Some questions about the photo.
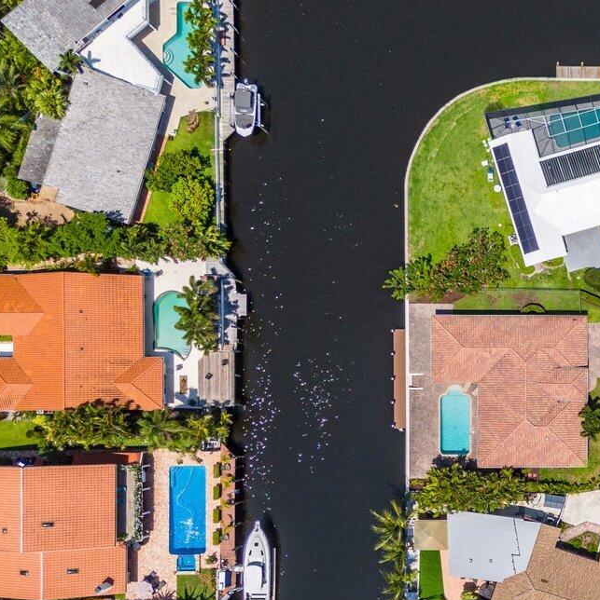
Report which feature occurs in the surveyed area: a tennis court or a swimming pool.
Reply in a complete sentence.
There is a swimming pool in the scene.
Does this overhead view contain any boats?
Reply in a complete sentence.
Yes, the frame does contain a boat.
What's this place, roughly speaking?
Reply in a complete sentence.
It's a residential area.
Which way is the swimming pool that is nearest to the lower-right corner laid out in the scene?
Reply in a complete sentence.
What the image shows is the swimming pool that is nearest to the lower-right corner lying up and down.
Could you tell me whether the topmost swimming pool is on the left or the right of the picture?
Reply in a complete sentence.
The topmost swimming pool appears in the left half of the scene.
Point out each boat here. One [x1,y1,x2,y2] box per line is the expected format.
[233,78,256,136]
[243,522,270,600]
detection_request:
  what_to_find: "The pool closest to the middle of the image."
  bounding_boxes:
[153,289,196,361]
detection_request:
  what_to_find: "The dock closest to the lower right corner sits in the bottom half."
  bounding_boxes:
[391,329,404,429]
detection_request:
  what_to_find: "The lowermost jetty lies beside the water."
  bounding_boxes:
[219,445,246,600]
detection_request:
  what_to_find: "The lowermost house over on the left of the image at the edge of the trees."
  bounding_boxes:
[0,452,151,600]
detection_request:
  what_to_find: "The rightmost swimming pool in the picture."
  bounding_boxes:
[548,104,600,148]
